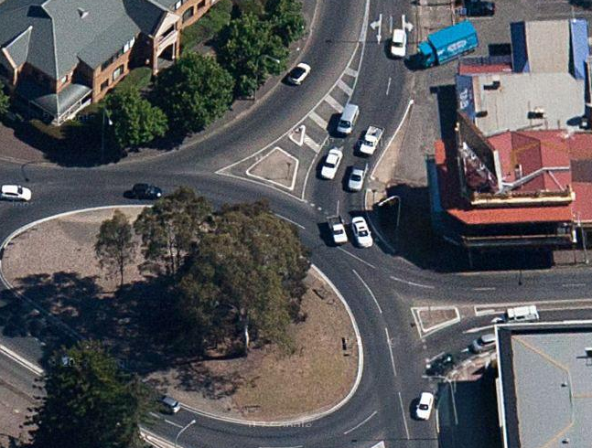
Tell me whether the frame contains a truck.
Yes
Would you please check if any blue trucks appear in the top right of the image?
Yes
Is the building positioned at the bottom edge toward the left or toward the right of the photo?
right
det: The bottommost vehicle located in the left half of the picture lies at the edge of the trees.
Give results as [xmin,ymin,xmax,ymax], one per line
[148,390,182,416]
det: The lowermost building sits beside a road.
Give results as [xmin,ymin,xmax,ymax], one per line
[494,321,592,448]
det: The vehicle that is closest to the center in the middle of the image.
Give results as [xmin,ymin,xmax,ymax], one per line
[326,213,347,247]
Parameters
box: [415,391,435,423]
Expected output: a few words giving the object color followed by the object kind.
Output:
white car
